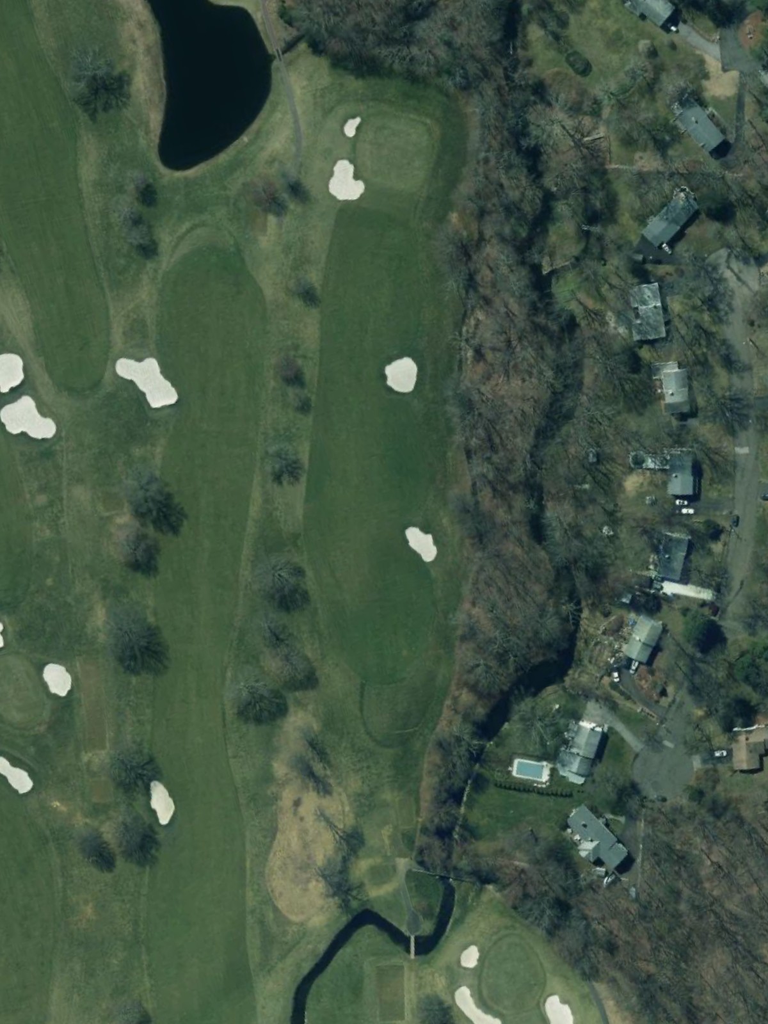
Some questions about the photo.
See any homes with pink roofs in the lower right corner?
No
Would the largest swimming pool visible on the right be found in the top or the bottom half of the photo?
bottom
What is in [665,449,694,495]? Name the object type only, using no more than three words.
house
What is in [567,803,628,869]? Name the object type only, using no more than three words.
house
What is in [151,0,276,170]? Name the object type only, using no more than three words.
pond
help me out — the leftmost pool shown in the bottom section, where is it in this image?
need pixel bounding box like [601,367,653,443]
[513,759,549,782]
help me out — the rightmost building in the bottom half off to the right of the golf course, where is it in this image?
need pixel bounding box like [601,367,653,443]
[732,723,768,770]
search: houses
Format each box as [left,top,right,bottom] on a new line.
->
[625,0,675,27]
[732,723,768,770]
[567,803,628,869]
[651,360,690,414]
[678,92,725,152]
[630,284,665,340]
[665,449,694,495]
[557,720,604,785]
[624,614,664,663]
[656,531,690,580]
[643,195,700,248]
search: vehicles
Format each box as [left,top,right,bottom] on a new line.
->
[662,243,672,254]
[613,671,619,682]
[710,603,719,615]
[676,500,687,505]
[732,514,739,526]
[668,24,678,33]
[761,494,768,499]
[630,660,639,673]
[630,886,635,896]
[681,508,693,514]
